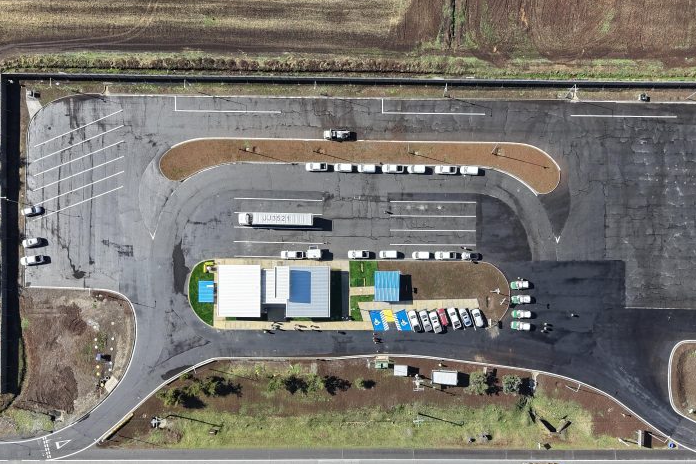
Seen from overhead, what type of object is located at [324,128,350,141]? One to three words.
vehicle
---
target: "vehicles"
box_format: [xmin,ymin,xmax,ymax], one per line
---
[509,281,530,289]
[449,307,461,329]
[409,311,420,331]
[382,164,404,173]
[510,321,531,330]
[305,163,328,172]
[334,163,354,172]
[460,308,471,327]
[347,250,370,260]
[407,164,426,174]
[324,128,350,141]
[459,166,479,175]
[511,310,532,318]
[282,250,304,260]
[420,311,432,331]
[411,251,431,260]
[379,250,398,260]
[23,239,42,247]
[430,312,441,332]
[435,251,457,261]
[240,213,313,226]
[510,295,531,304]
[21,256,44,265]
[472,308,484,328]
[438,307,449,327]
[462,252,481,261]
[435,165,457,175]
[357,163,377,173]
